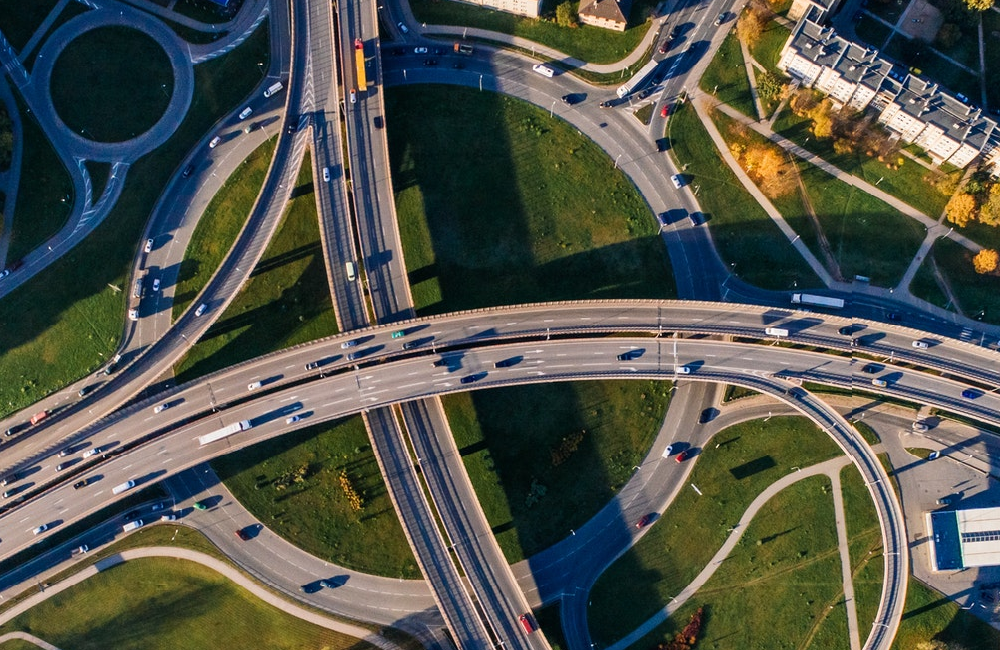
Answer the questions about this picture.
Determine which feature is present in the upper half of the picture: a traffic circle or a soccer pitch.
traffic circle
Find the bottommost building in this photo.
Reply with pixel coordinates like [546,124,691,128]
[923,508,1000,569]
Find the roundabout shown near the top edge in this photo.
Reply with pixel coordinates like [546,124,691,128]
[30,8,193,161]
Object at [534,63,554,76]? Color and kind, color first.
white vehicle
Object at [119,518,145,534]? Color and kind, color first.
white vehicle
